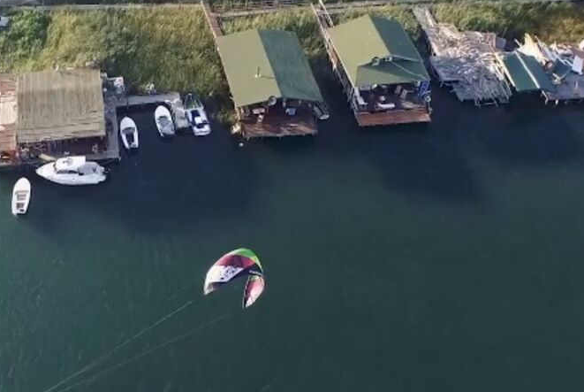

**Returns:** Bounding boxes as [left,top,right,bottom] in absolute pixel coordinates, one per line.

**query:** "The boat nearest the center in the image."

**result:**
[315,101,331,119]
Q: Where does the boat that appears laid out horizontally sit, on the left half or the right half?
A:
left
